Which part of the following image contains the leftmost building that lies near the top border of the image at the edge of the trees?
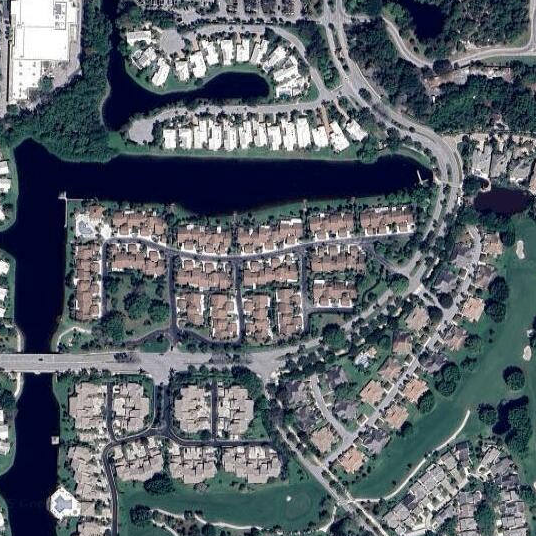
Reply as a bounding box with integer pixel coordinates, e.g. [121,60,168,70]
[11,0,77,105]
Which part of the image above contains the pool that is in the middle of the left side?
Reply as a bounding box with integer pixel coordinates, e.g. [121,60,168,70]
[75,214,102,240]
